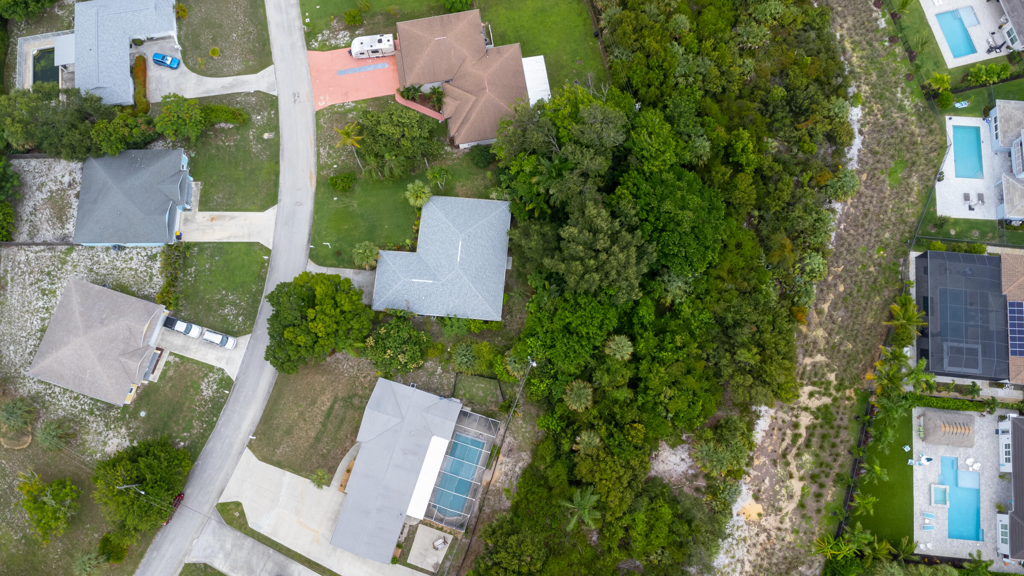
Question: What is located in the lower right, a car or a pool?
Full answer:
You can see a pool in the lower right.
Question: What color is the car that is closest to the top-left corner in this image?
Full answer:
The car that is closest to the top-left corner is blue.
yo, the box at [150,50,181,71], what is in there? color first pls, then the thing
blue car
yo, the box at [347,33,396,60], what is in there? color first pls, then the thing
white camper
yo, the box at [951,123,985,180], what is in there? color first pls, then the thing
blue swimming pool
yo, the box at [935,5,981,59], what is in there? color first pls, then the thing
blue swimming pool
